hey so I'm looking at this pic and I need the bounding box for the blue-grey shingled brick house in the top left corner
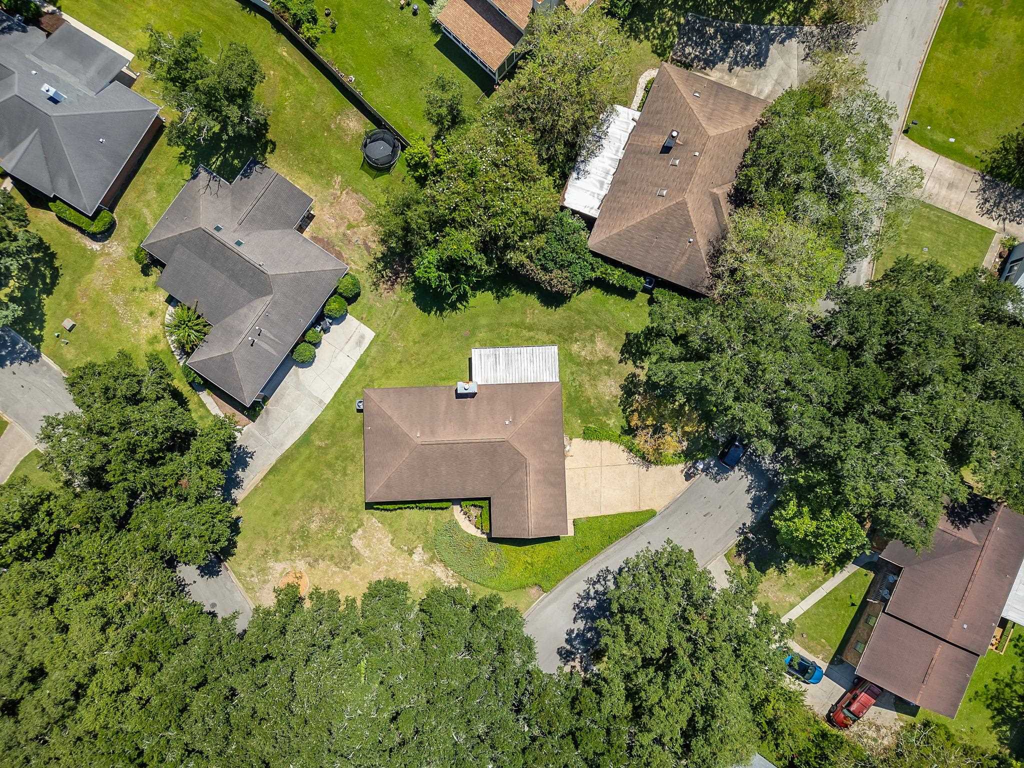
[0,11,167,217]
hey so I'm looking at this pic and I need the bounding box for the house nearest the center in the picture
[362,381,569,539]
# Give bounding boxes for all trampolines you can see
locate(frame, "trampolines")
[357,118,400,168]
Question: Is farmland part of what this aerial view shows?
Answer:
No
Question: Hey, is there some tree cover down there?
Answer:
Yes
